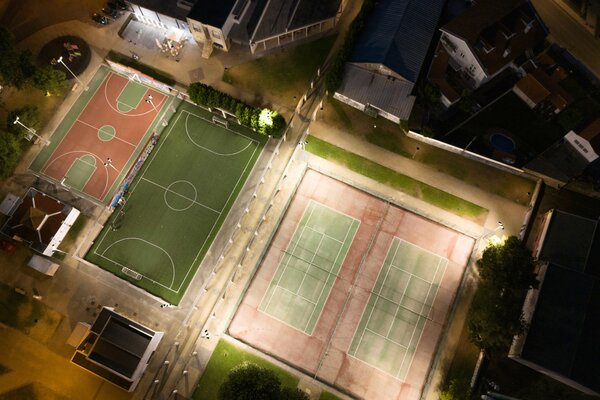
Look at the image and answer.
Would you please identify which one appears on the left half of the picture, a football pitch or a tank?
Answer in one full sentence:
It is a football pitch that can be seen on the left half of the picture.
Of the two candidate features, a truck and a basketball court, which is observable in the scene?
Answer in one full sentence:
Looking from above, you can make out a basketball court.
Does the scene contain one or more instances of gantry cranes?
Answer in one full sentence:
No, no gantry crane is visible in the view.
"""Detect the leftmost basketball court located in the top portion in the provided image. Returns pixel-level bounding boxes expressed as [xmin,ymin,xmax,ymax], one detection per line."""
[29,66,175,206]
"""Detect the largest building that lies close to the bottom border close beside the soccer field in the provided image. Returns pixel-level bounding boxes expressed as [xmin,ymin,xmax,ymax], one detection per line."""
[70,306,163,390]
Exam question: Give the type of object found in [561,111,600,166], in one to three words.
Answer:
house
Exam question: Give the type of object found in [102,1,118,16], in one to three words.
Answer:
car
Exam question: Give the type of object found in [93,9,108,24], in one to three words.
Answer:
car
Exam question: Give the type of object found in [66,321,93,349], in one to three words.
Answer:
shed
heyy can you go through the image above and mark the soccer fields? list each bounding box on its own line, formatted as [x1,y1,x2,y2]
[86,101,270,305]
